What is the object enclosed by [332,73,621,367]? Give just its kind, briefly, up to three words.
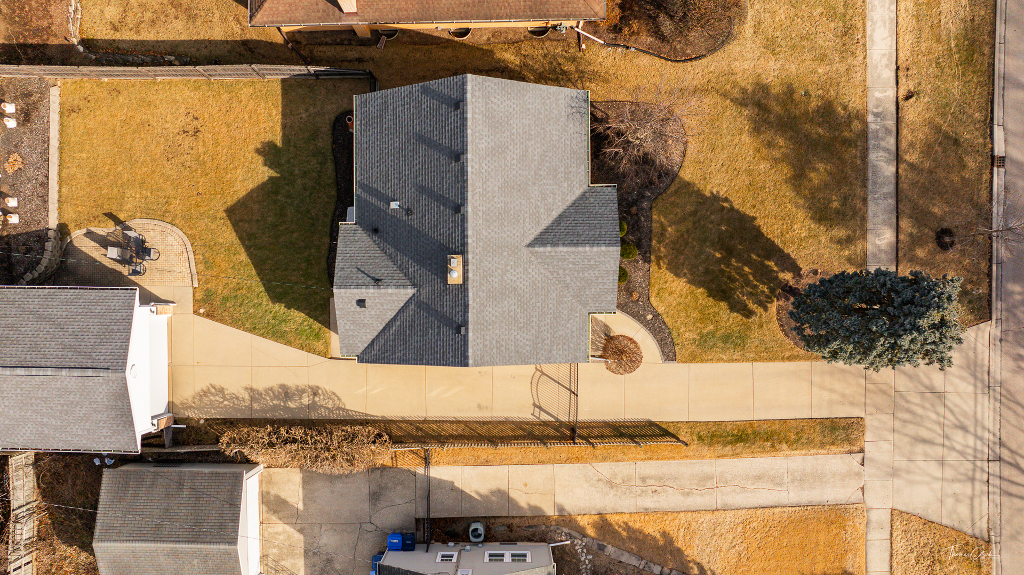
house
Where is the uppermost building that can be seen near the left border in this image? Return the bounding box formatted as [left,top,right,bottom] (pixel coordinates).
[0,284,185,457]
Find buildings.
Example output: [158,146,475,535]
[91,462,262,575]
[246,0,608,61]
[332,73,621,367]
[372,542,570,575]
[0,284,185,457]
